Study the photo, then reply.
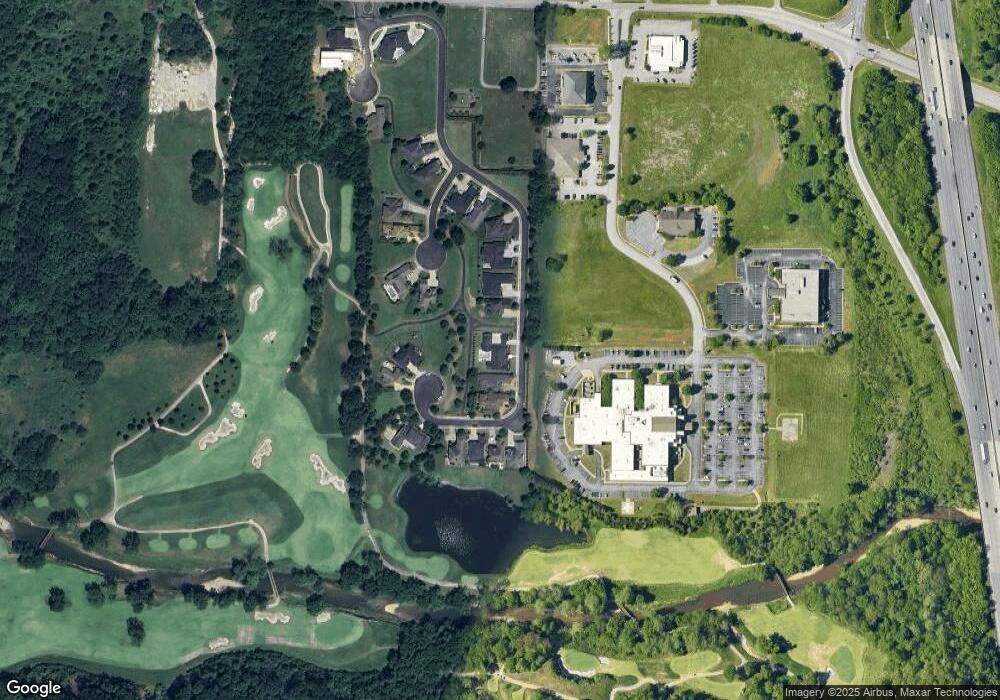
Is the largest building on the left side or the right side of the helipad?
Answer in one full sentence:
The largest building can be seen on the left of the helipad.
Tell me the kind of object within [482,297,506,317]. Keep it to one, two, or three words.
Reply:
house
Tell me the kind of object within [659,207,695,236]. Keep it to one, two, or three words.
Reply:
building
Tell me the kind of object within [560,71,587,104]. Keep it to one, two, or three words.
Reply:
building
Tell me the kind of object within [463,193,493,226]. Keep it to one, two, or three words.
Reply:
house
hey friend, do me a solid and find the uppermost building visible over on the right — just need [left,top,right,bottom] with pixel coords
[650,35,684,70]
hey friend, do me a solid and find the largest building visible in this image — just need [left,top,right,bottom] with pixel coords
[570,379,693,481]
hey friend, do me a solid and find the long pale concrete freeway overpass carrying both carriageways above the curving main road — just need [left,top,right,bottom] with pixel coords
[916,35,969,118]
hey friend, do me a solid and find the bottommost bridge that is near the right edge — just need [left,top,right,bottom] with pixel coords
[978,496,1000,542]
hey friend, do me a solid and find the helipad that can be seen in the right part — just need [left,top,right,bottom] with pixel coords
[768,413,804,440]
